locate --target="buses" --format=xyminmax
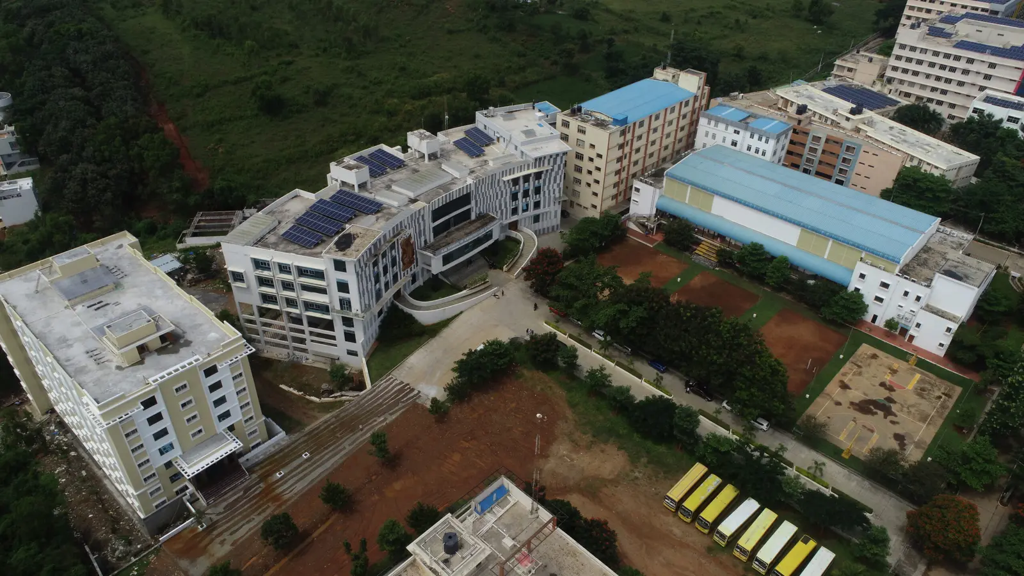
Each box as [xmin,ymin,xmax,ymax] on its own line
[805,548,838,576]
[694,485,741,536]
[677,475,722,526]
[713,497,758,551]
[664,465,708,515]
[750,522,797,576]
[733,508,778,564]
[774,535,817,576]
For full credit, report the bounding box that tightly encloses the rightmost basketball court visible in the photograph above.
[796,344,962,481]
